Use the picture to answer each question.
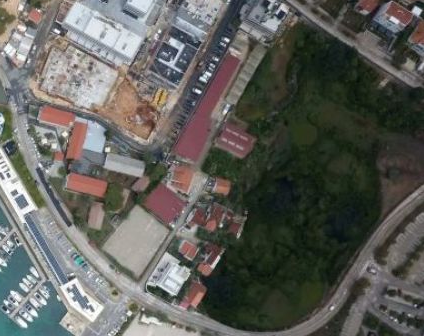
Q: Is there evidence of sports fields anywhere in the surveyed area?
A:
Yes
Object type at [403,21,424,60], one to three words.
house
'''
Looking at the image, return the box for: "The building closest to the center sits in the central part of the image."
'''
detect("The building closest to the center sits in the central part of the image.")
[202,178,231,194]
